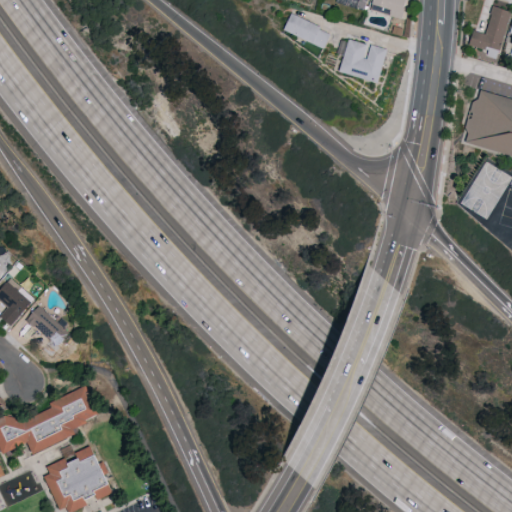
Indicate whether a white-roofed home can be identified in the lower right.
No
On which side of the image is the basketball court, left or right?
right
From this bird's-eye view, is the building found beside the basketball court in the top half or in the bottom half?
top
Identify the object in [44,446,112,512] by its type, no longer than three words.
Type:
building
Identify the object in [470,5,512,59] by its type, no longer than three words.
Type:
house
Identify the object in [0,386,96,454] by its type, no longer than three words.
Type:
building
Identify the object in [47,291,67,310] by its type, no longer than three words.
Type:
swimming pool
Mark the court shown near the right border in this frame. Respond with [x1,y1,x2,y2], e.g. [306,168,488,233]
[462,162,512,219]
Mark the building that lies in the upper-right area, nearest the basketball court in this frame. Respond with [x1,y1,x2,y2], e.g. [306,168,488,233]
[464,90,512,156]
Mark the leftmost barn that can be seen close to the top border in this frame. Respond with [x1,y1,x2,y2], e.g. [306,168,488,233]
[284,13,331,48]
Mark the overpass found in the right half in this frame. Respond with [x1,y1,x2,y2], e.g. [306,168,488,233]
[282,256,408,491]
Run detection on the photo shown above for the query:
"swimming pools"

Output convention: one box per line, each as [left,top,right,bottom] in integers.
[369,16,388,27]
[47,291,67,310]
